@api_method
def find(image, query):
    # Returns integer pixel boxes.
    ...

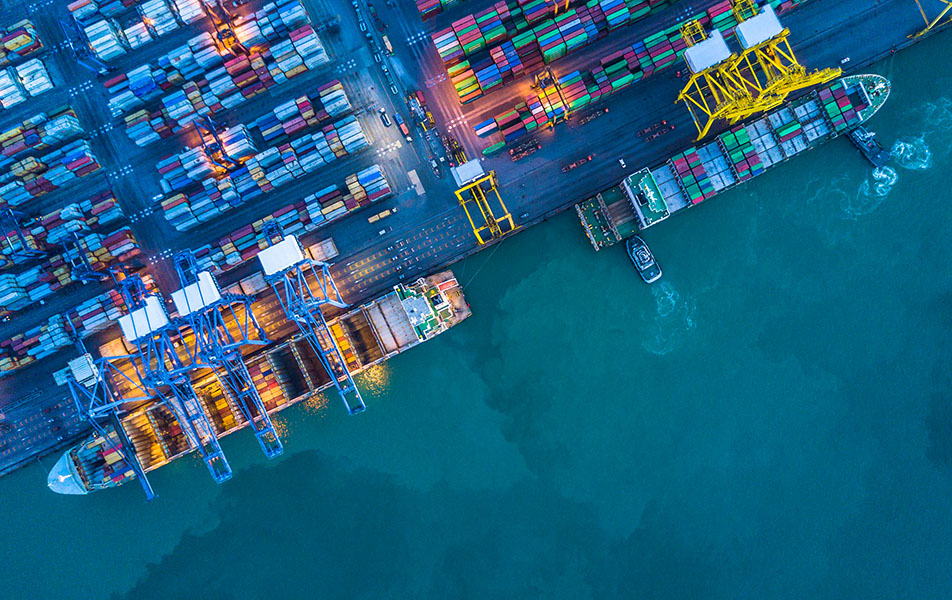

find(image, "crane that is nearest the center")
[446,140,519,245]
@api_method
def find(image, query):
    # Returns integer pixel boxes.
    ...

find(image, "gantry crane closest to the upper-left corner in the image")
[24,24,91,91]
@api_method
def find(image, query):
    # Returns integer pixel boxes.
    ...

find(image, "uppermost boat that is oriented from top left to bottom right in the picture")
[843,130,895,175]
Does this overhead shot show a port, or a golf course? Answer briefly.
port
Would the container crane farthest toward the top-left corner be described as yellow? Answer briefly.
No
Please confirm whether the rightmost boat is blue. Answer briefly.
Yes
